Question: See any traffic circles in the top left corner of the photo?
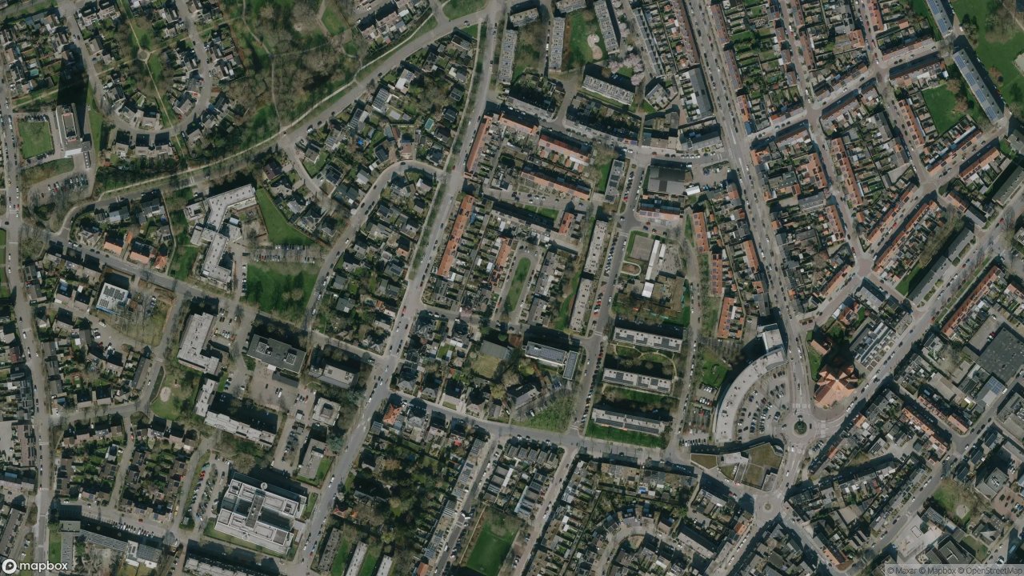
No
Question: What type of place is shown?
residential area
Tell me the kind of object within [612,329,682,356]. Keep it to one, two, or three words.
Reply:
building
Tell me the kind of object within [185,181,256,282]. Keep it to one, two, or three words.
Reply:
house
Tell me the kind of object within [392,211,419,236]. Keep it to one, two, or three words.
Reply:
house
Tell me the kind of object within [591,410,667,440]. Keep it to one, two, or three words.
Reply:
building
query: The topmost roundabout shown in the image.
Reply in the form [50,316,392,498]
[784,416,815,446]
